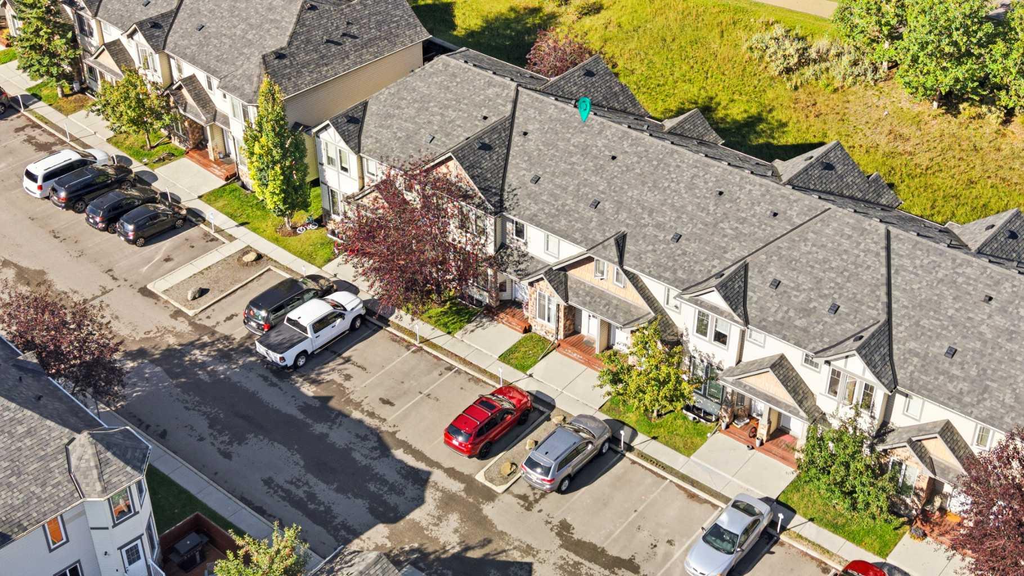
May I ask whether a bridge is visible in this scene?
No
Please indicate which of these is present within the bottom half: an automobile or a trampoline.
automobile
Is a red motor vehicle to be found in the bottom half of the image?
Yes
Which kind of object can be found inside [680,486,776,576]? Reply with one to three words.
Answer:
car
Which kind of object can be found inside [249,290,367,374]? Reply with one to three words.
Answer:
truck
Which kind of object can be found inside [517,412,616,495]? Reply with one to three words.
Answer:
car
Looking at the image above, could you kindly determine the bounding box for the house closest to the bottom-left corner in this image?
[0,335,166,576]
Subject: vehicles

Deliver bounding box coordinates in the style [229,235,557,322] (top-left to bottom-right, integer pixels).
[249,290,367,374]
[20,143,118,196]
[440,383,535,459]
[79,180,166,231]
[0,91,10,116]
[103,196,190,246]
[517,412,616,495]
[240,268,341,334]
[41,158,138,214]
[680,486,776,576]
